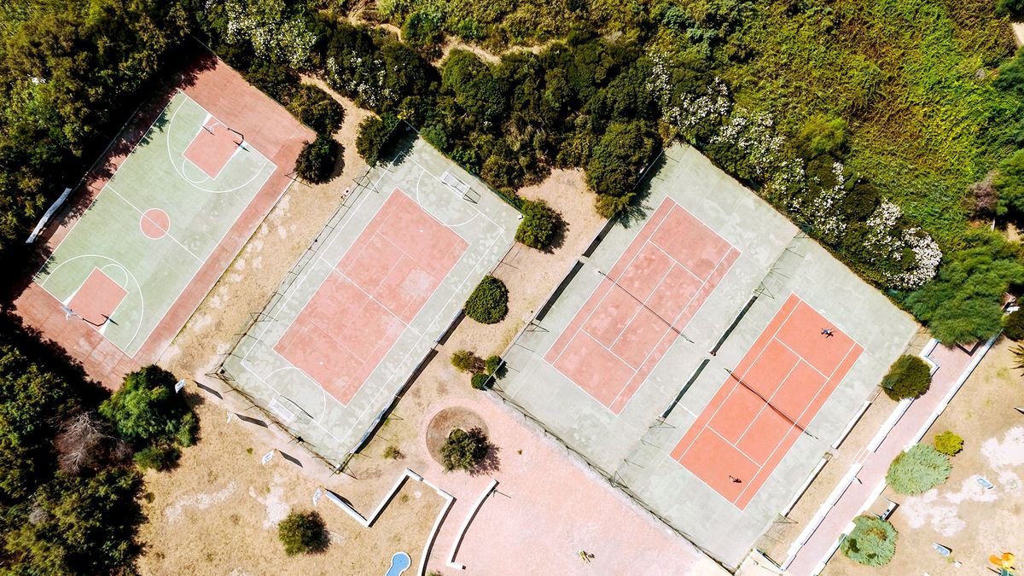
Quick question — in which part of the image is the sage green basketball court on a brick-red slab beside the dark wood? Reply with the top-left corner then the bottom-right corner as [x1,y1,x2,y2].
[0,41,315,393]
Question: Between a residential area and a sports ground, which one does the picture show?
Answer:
sports ground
